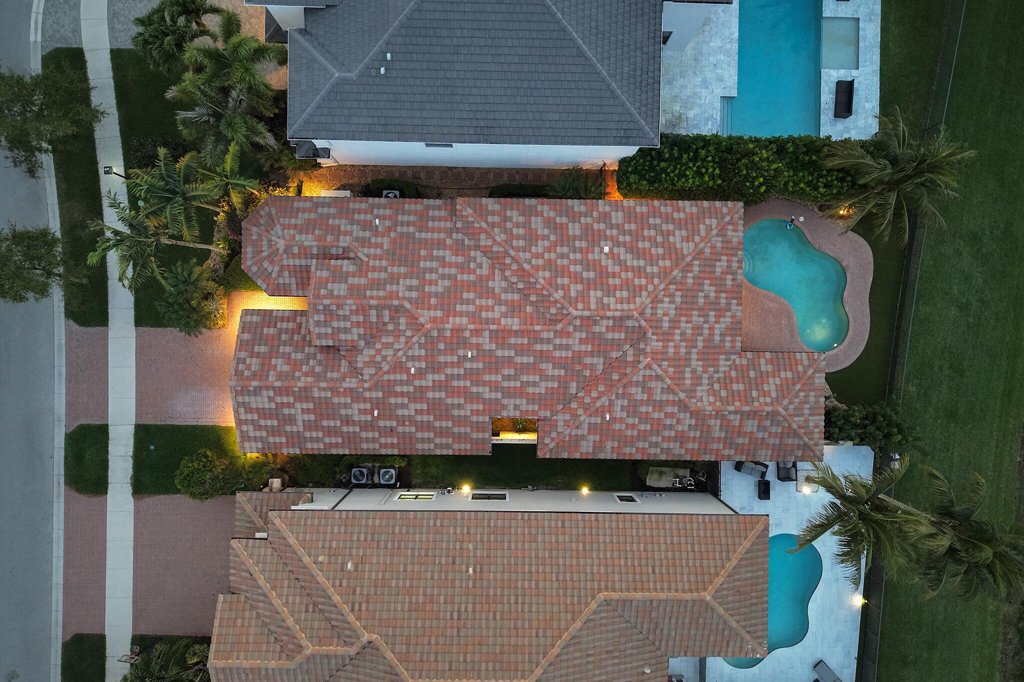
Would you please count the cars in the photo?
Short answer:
0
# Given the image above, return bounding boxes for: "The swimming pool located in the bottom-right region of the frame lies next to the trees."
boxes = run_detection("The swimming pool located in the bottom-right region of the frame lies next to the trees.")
[722,534,823,669]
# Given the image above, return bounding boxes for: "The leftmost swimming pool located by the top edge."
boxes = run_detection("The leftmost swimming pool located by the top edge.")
[721,0,821,145]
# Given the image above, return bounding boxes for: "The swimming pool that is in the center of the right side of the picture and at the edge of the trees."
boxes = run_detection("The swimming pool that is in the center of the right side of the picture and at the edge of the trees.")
[743,213,854,356]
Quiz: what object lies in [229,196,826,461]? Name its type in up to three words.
house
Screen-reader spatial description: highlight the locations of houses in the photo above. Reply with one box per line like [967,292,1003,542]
[206,488,770,682]
[229,196,826,461]
[242,0,733,171]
